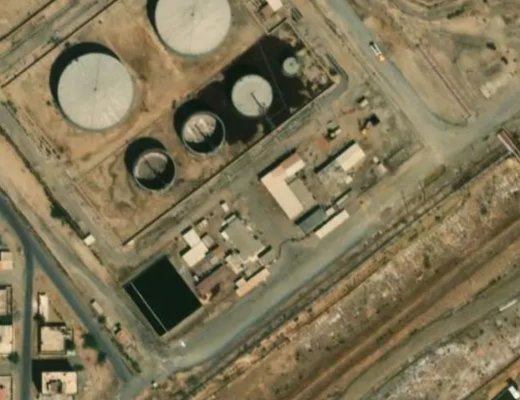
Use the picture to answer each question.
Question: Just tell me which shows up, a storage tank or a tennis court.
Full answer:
Looking from above, you can make out a storage tank.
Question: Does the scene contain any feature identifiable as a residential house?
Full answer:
Yes, there's a residential house down there.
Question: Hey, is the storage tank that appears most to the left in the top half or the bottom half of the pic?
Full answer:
You can find the storage tank that appears most to the left in the top half.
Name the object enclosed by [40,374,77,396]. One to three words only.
house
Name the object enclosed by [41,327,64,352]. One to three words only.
house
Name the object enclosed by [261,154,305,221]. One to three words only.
building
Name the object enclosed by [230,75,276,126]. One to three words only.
storage tank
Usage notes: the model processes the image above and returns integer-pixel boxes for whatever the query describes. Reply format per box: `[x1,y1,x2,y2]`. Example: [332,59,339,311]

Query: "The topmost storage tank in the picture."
[153,0,233,58]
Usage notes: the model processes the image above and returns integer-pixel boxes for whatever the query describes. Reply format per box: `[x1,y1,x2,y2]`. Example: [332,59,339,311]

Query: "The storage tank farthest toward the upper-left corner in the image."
[56,53,136,132]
